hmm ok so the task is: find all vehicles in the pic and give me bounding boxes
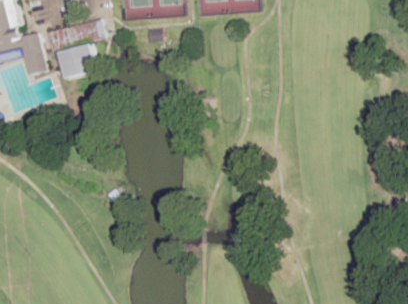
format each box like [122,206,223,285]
[36,20,44,24]
[32,7,43,12]
[102,2,111,8]
[30,2,40,6]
